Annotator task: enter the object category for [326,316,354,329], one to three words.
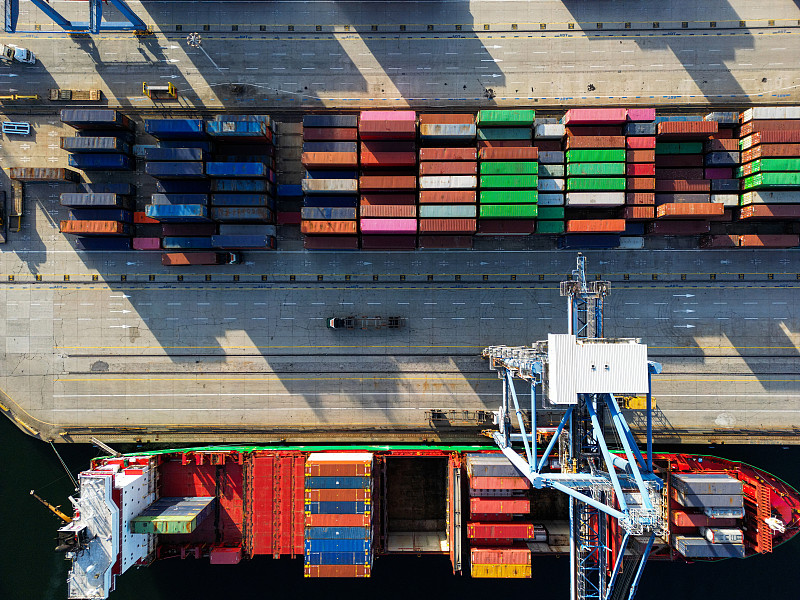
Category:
vehicle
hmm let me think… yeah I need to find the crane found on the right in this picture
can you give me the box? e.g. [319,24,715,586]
[486,251,680,600]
